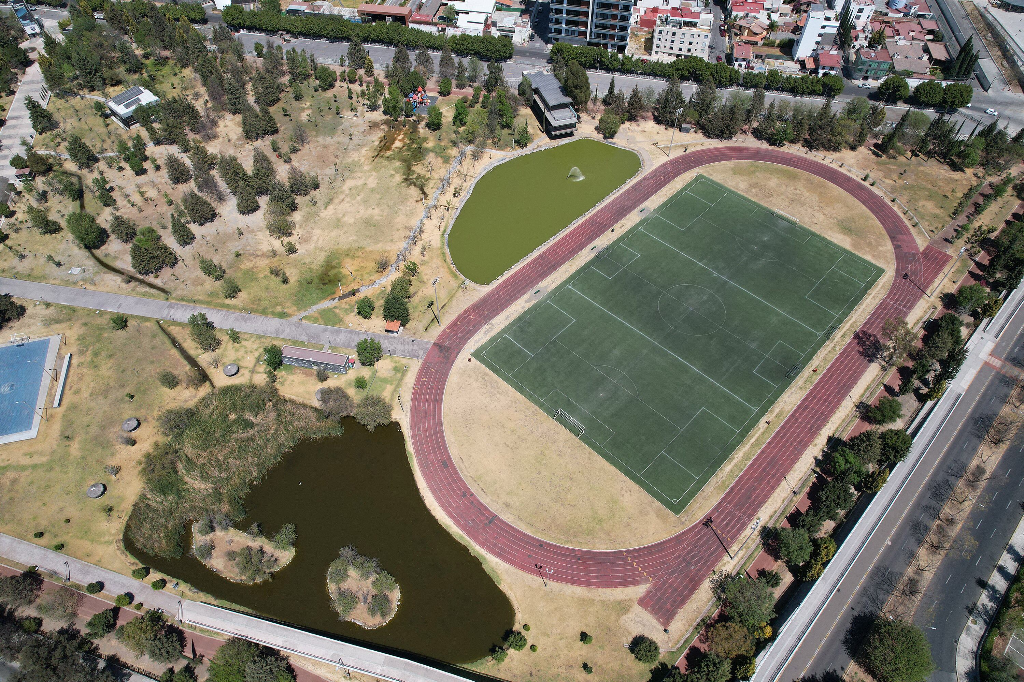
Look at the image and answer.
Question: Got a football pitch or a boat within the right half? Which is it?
football pitch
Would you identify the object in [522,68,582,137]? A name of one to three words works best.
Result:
building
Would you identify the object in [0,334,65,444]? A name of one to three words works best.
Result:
sports court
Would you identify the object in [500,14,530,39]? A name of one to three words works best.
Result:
house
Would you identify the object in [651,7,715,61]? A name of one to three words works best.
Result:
building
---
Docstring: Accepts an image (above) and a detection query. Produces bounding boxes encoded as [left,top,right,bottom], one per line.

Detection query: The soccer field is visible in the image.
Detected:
[469,173,886,518]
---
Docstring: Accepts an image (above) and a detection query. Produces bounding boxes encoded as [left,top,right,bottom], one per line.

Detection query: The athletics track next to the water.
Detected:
[407,146,953,628]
